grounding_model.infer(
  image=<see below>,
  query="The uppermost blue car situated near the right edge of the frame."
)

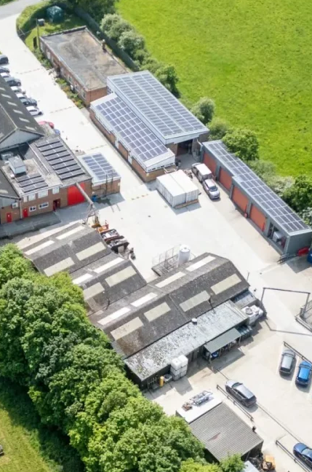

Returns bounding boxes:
[296,362,312,387]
